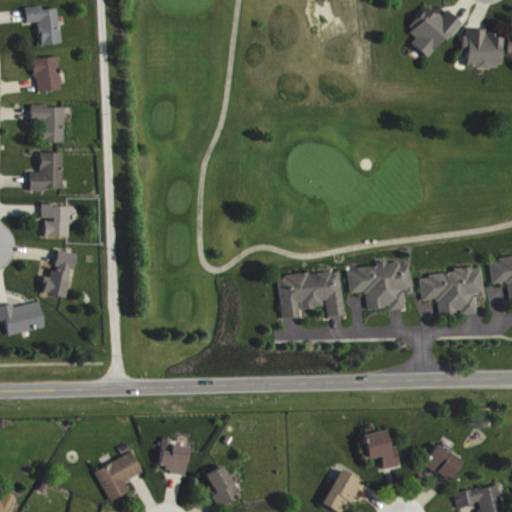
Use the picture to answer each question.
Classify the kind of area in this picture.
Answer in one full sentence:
The area seen from above is a golf course.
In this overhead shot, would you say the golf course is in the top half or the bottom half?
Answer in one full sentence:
Seen from above, the golf course lies in the top half of the view.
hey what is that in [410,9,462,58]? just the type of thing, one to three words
house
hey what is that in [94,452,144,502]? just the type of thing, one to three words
house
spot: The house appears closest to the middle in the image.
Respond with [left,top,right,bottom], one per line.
[278,271,346,319]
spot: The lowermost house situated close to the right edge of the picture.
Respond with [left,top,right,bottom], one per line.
[456,484,506,512]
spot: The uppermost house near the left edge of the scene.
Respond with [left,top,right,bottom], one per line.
[24,4,62,46]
